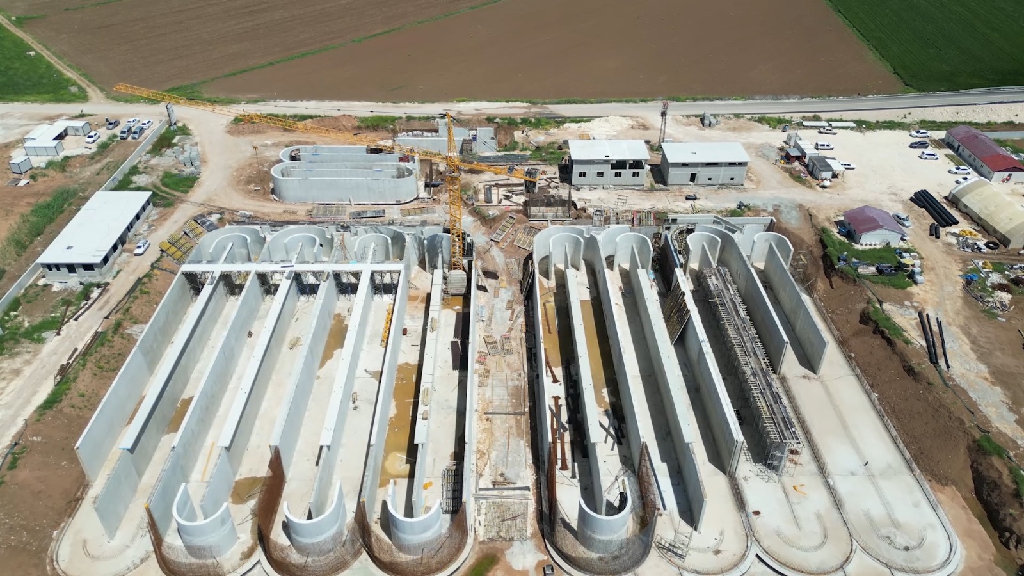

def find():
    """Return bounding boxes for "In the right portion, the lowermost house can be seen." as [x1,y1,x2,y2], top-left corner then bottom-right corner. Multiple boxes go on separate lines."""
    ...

[843,201,907,244]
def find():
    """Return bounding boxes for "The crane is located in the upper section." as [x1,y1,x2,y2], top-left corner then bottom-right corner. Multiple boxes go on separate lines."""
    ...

[116,85,541,303]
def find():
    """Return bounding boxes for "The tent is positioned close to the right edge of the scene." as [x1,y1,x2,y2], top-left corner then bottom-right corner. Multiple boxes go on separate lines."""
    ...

[949,172,1024,248]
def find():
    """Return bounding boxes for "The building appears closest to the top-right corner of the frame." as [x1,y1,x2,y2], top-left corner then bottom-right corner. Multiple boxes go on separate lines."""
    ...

[944,119,1024,182]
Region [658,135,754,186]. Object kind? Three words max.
building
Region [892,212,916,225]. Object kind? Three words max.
vehicle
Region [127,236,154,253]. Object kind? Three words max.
car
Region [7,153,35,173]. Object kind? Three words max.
building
